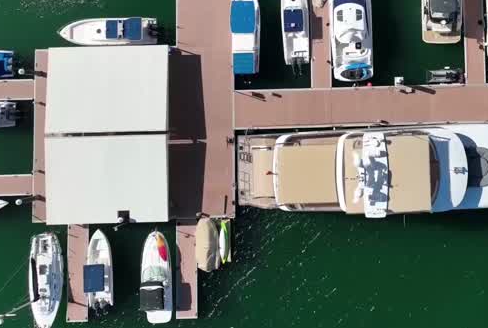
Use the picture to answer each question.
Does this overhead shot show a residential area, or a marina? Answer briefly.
marina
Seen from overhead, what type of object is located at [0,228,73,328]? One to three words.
boat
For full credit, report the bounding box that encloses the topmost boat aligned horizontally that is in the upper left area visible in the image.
[57,16,164,45]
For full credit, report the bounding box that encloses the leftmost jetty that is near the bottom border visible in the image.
[67,224,89,321]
